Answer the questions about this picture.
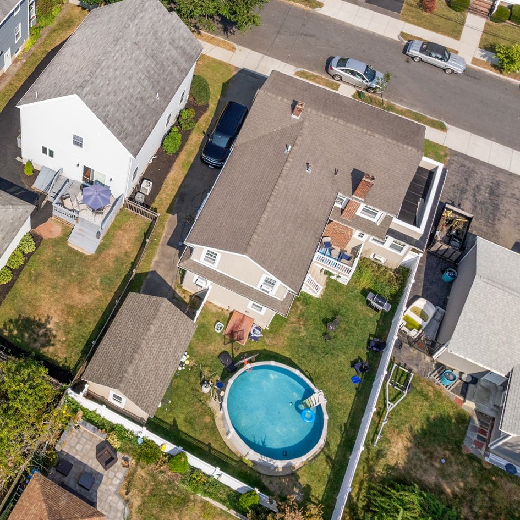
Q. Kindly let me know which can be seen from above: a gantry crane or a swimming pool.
swimming pool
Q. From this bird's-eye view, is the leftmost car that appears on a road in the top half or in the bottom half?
top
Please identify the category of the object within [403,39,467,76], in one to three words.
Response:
car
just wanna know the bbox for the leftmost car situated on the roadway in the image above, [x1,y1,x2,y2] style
[326,55,388,94]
